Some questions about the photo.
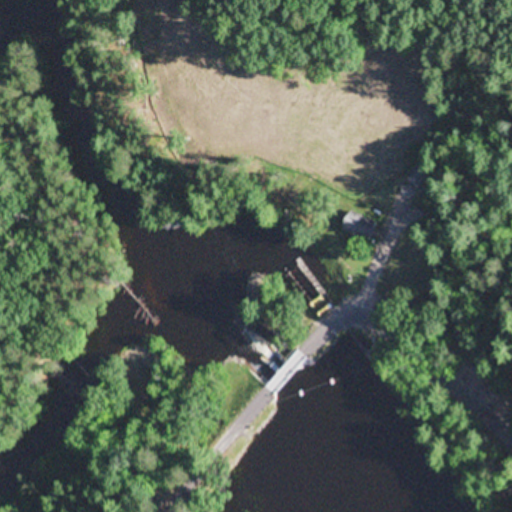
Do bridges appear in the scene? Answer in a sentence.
Yes, I can see a bridge in this picture.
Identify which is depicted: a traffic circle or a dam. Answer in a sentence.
This aerial view contains a dam.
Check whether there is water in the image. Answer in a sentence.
Yes, water shows up in the scene.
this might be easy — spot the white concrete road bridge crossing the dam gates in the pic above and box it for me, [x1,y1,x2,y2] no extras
[266,350,306,396]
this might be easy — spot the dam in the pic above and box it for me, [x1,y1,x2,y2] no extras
[243,328,306,400]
